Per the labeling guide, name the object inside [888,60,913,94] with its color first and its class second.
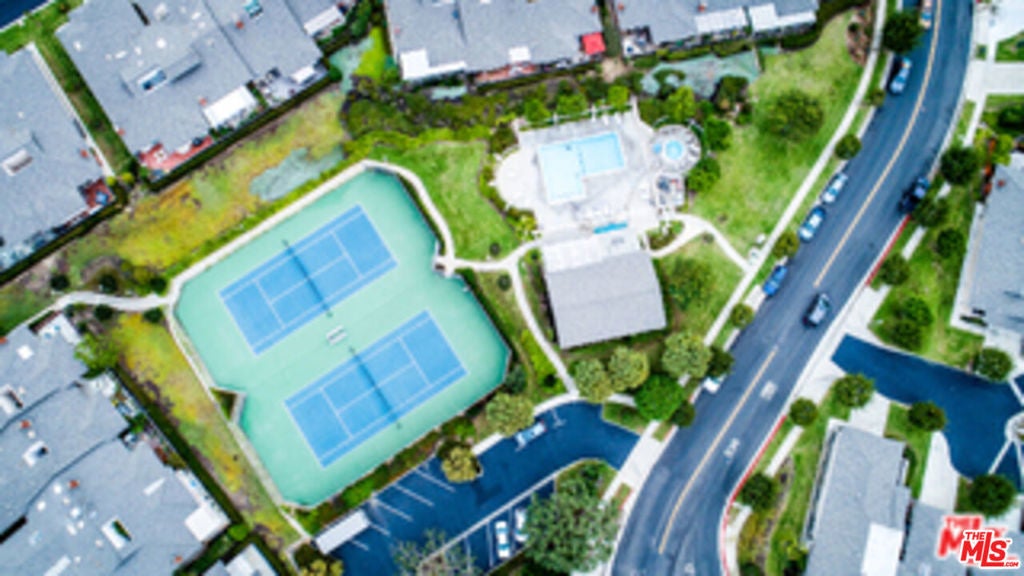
blue car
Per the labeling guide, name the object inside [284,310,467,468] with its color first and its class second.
blue tennis court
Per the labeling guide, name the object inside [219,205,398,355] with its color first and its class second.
blue tennis court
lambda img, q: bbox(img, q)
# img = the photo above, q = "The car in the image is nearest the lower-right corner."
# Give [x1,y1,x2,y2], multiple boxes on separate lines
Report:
[805,293,829,327]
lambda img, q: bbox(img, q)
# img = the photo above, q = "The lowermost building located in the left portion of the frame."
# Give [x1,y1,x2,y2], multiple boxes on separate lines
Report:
[205,542,276,576]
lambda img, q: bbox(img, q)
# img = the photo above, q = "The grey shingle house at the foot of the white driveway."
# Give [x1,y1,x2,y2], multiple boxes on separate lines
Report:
[898,501,1024,576]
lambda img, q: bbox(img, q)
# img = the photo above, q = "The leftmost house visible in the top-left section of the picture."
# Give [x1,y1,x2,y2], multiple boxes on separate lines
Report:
[0,44,108,258]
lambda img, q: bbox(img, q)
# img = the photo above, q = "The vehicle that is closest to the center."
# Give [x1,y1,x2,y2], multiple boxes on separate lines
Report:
[514,421,545,445]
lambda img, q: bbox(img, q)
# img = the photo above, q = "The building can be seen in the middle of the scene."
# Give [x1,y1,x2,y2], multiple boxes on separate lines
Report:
[542,228,667,348]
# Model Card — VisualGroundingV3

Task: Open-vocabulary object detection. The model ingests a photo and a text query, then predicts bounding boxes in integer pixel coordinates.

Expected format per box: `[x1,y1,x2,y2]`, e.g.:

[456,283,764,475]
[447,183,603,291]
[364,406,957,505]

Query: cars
[898,179,924,212]
[496,520,511,556]
[706,371,725,390]
[799,207,825,240]
[805,293,829,327]
[763,264,788,296]
[823,171,848,202]
[918,0,934,26]
[514,421,545,445]
[515,508,529,540]
[888,60,913,94]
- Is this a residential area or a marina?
residential area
